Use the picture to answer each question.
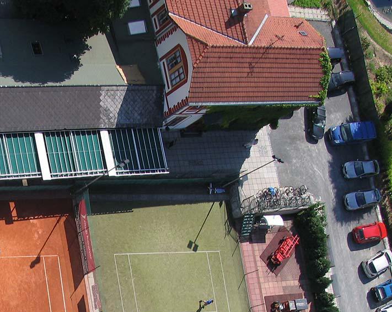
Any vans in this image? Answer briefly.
Yes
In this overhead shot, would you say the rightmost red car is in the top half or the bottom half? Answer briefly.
bottom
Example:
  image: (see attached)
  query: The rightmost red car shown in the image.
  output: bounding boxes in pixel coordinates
[352,220,390,244]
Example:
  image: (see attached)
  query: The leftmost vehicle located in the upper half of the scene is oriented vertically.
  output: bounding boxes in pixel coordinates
[307,98,331,147]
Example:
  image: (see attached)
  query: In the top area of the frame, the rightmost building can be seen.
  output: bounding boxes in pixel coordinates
[134,0,339,143]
